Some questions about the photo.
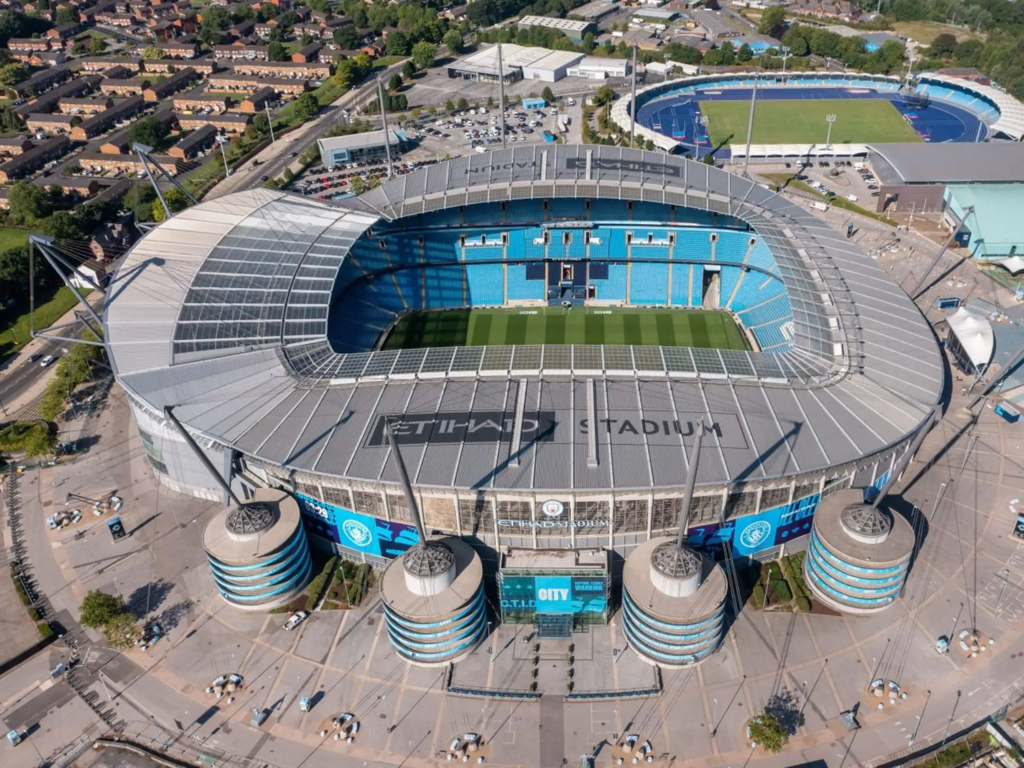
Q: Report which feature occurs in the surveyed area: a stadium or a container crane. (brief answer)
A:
stadium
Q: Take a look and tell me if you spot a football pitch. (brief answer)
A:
Yes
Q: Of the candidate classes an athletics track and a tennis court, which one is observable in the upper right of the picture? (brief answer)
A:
athletics track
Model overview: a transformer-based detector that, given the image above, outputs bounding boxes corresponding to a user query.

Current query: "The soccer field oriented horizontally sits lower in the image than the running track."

[369,306,763,380]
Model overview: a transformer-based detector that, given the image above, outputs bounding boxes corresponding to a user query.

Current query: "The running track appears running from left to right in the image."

[632,93,991,157]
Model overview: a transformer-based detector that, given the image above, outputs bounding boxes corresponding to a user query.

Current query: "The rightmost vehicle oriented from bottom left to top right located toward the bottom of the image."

[282,611,307,628]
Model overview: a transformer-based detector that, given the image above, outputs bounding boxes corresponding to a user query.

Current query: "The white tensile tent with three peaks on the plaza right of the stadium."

[936,307,1016,391]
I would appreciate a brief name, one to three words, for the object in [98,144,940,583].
stadium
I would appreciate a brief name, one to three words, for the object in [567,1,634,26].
building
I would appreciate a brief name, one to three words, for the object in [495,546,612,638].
building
